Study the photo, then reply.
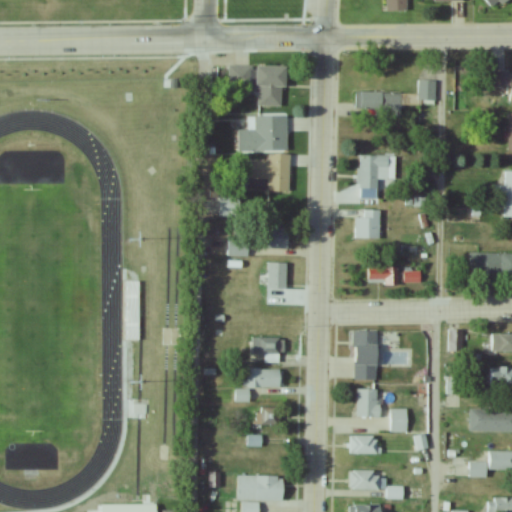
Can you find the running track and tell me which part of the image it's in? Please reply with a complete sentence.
Look in the left portion of the view to spot the running track.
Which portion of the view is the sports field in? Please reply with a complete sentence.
The sports field sits in the left section of the image.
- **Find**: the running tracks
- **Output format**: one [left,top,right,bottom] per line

[0,110,123,509]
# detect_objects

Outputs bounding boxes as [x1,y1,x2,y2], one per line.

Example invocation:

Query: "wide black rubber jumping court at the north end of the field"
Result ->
[0,151,64,185]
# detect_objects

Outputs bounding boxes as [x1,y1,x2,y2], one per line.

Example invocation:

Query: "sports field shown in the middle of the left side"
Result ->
[0,131,102,488]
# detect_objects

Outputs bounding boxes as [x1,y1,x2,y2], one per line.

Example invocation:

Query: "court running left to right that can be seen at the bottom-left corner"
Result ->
[6,444,58,470]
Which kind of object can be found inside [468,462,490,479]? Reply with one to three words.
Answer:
building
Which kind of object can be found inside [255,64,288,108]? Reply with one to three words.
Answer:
house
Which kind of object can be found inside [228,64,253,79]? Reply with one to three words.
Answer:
building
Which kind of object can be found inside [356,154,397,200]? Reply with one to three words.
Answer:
house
